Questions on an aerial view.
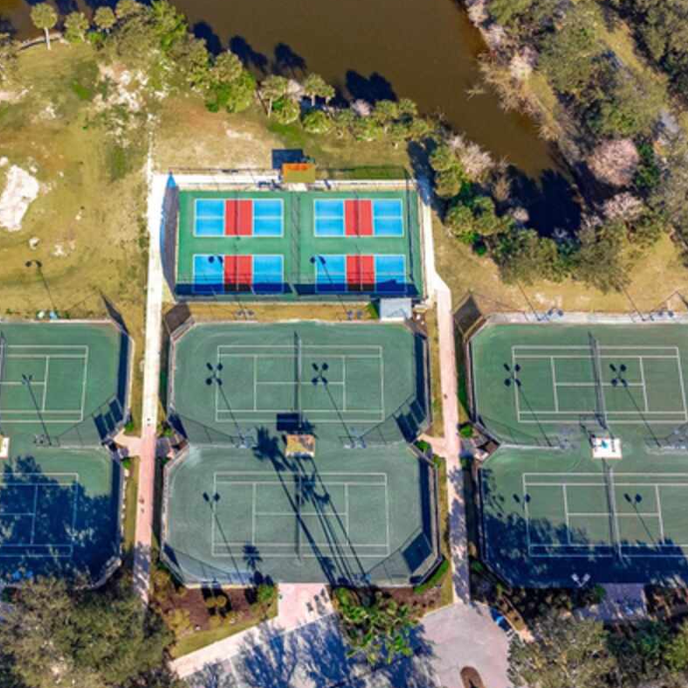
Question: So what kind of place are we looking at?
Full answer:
This looks like a sports ground.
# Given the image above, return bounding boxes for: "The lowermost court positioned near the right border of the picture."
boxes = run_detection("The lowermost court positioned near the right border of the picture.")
[479,446,688,585]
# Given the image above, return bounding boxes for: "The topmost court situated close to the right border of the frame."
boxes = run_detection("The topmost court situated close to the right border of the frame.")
[471,320,688,447]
